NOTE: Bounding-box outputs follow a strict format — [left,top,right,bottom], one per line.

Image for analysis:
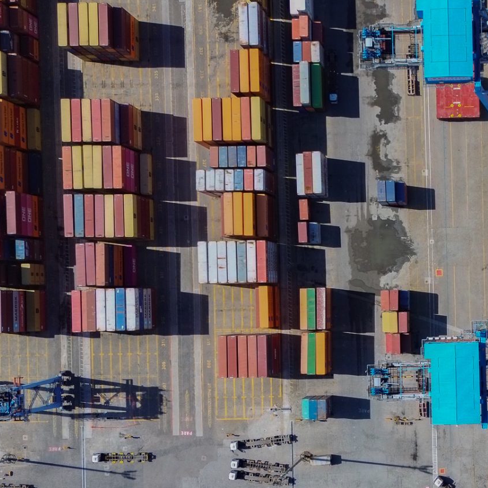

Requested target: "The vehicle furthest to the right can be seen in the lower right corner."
[434,475,453,488]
